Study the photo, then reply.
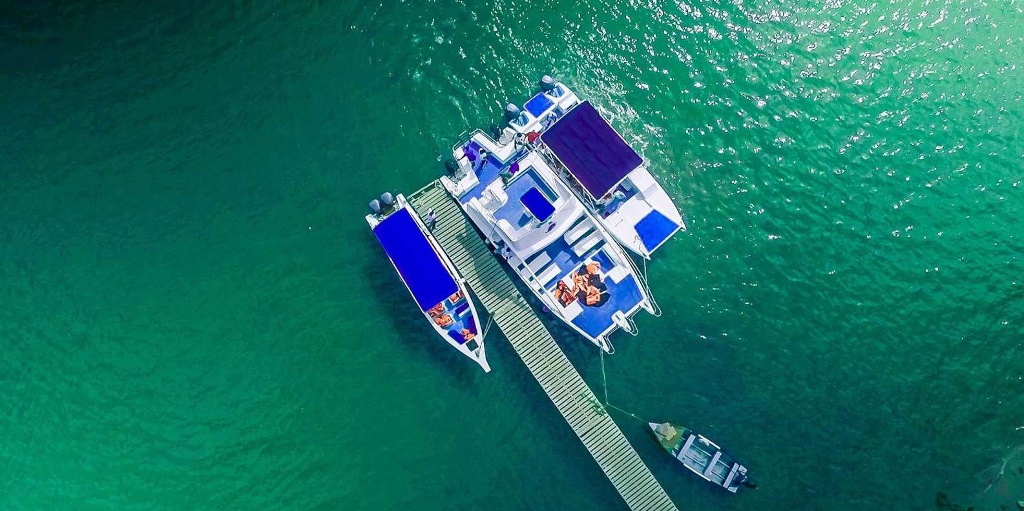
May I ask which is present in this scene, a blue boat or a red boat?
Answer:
blue boat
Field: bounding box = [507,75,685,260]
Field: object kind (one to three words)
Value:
boat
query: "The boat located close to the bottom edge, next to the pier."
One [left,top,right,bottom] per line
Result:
[649,422,752,492]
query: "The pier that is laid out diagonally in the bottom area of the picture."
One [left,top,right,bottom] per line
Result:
[406,178,678,511]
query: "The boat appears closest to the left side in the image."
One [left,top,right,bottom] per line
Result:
[367,193,490,373]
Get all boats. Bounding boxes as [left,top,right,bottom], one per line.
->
[367,193,490,373]
[507,75,685,260]
[441,126,662,357]
[649,422,752,492]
